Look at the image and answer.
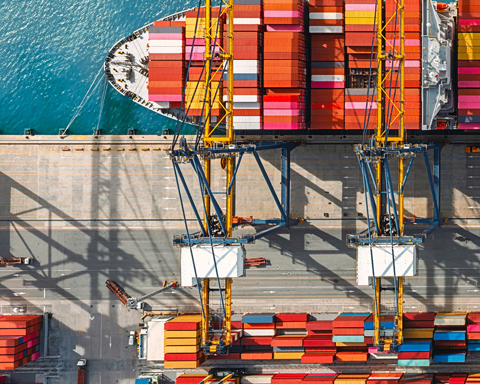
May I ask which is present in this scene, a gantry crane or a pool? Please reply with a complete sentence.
The one in the frame is a gantry crane.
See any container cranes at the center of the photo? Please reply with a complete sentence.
Yes, a container crane can be seen at the center of the photo.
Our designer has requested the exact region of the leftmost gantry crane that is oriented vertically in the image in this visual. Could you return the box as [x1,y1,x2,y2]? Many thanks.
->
[164,0,313,352]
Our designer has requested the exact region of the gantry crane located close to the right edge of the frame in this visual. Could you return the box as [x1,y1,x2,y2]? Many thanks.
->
[348,0,457,352]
